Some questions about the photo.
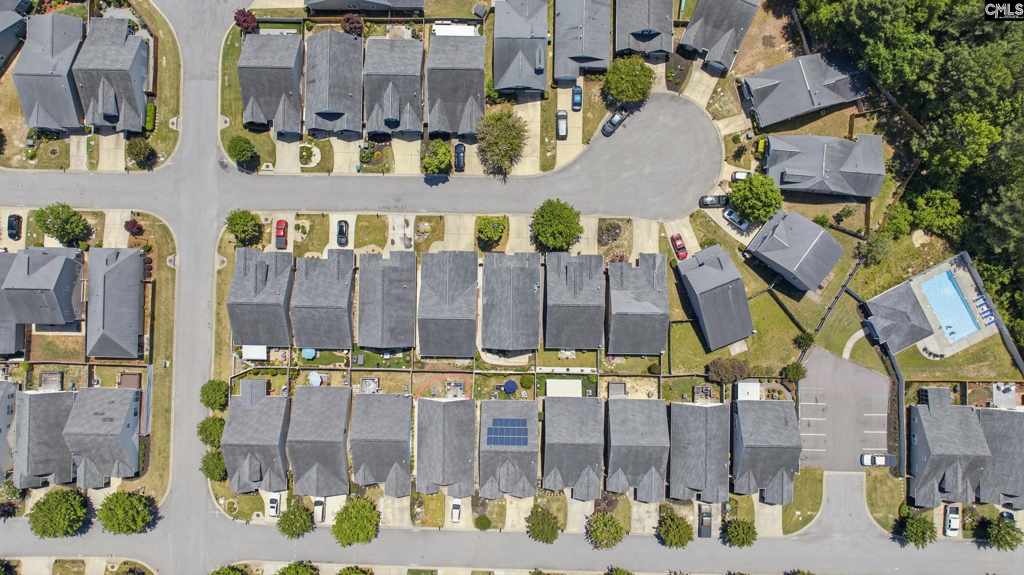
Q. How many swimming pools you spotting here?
1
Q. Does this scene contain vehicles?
Yes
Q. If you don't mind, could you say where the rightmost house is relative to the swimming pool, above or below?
below it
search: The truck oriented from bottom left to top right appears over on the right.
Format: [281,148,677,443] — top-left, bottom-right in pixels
[602,107,629,136]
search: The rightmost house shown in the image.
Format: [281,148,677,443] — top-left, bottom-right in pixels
[975,407,1024,512]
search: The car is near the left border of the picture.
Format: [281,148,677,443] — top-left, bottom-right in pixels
[9,217,23,239]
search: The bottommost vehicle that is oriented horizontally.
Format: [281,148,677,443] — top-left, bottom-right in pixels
[861,454,892,467]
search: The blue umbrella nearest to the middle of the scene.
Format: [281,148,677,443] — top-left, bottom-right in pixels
[504,379,517,393]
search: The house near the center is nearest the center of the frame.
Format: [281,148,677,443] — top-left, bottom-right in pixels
[482,253,542,349]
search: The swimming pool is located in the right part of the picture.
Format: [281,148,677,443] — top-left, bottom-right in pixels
[910,258,998,360]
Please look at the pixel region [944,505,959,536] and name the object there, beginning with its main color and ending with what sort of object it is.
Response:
white vehicle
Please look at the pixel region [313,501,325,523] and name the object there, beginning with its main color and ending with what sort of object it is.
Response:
white vehicle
